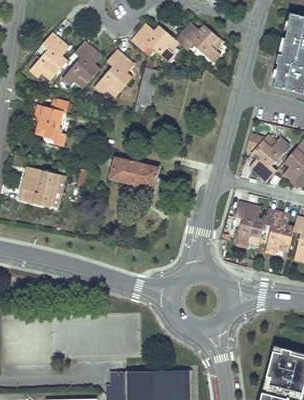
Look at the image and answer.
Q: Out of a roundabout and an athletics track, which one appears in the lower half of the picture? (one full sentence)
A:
What appears in the lower half of the picture is a roundabout.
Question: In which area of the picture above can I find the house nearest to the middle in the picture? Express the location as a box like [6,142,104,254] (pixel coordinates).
[108,157,158,187]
